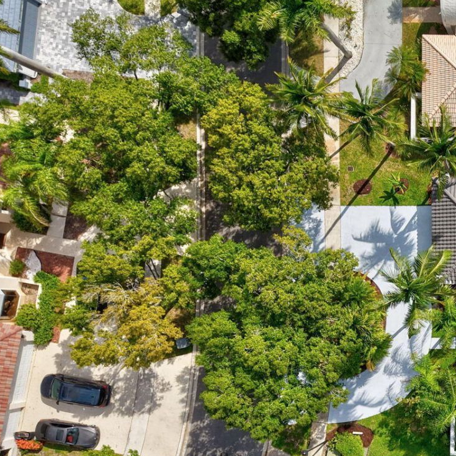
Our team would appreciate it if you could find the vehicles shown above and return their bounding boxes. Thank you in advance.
[29,421,100,455]
[34,375,109,409]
